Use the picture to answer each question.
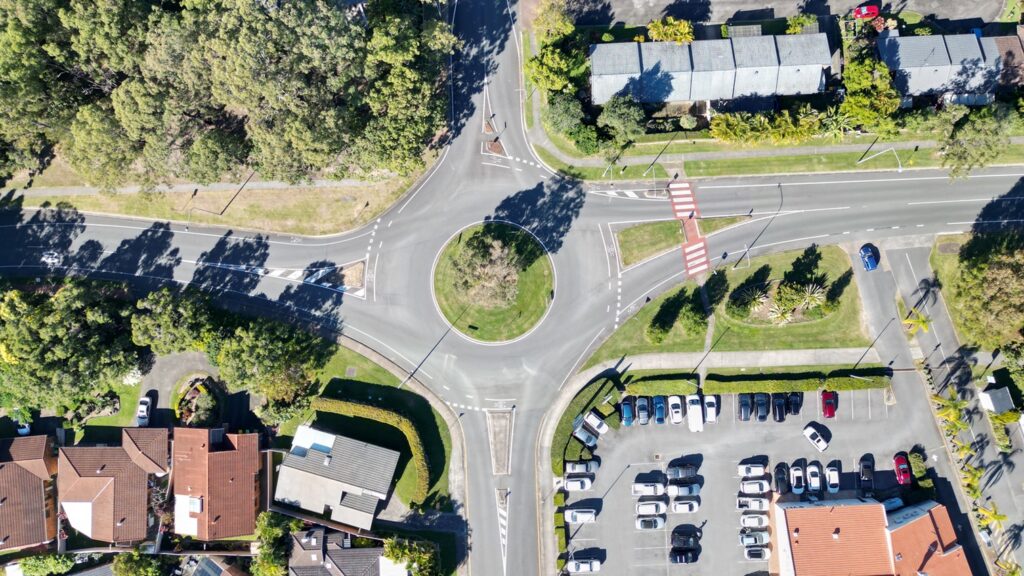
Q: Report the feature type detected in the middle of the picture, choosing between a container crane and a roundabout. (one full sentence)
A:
Looking in the middle of the picture, you will find a roundabout.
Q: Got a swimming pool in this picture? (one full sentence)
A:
No, no swimming pool is visible in the scene.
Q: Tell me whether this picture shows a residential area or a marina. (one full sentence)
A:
This image shows a residential area.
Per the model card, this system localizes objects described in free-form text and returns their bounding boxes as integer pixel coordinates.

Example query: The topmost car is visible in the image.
[851,4,878,20]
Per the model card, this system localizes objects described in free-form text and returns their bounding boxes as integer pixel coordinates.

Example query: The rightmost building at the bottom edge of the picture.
[888,497,977,576]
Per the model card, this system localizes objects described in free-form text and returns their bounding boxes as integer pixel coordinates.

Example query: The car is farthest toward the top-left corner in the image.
[37,251,66,265]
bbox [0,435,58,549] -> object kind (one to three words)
house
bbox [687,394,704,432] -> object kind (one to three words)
vehicle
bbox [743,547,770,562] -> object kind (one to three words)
car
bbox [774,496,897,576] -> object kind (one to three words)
building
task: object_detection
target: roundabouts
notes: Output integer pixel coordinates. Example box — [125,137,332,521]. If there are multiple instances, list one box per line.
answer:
[432,221,555,345]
